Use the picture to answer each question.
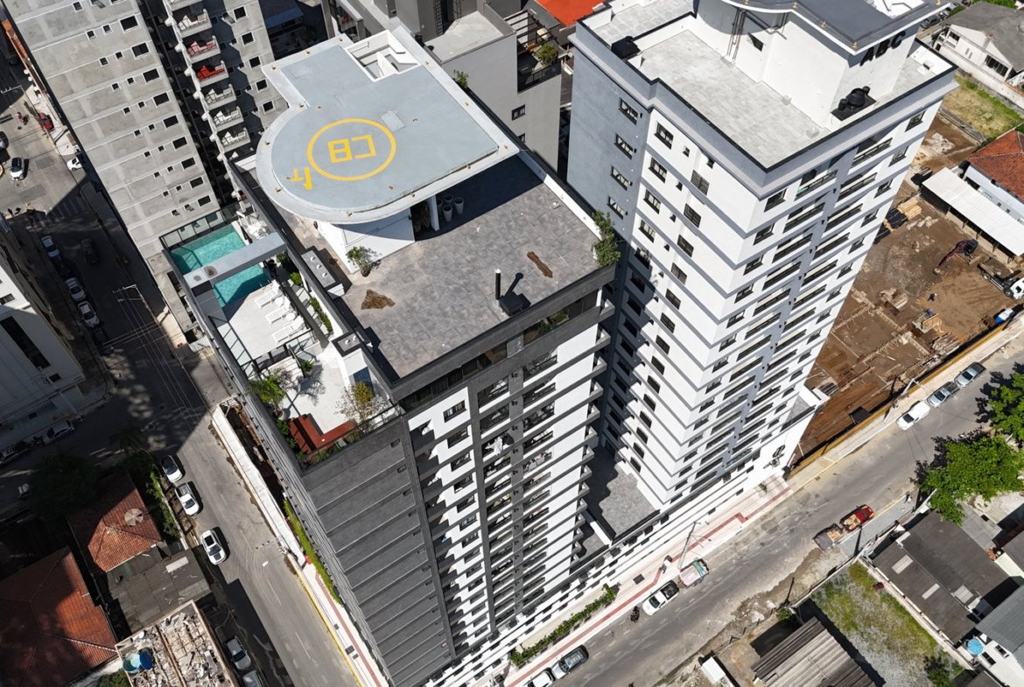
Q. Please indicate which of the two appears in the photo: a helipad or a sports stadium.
helipad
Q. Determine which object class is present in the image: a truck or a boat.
truck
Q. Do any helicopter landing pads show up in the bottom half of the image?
No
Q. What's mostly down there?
buildings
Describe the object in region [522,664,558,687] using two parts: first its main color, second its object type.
white car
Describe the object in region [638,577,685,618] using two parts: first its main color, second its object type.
white truck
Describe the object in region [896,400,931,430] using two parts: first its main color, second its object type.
white car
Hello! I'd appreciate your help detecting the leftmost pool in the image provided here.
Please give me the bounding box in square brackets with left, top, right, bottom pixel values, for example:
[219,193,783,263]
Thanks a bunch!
[171,222,269,304]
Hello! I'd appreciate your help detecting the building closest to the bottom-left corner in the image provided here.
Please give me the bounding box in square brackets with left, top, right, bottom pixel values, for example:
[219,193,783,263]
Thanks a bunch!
[0,547,130,687]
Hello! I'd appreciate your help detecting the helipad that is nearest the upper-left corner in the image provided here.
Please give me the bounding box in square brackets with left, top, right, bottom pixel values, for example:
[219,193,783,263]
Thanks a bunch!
[257,26,521,225]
